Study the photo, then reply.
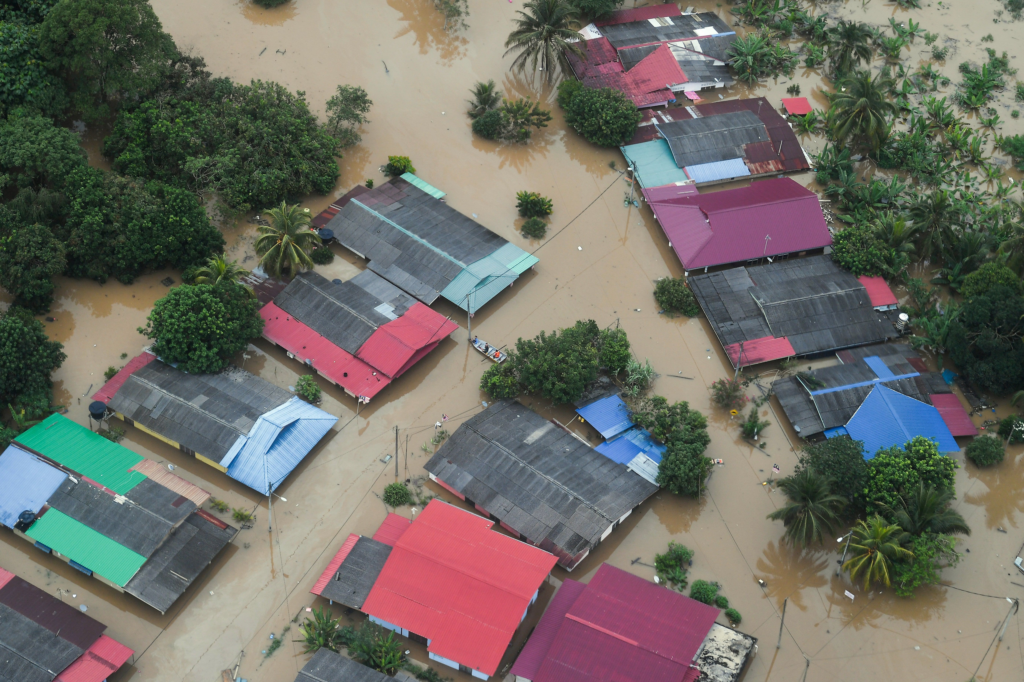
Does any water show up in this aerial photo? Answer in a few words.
Yes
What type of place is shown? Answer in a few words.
residential area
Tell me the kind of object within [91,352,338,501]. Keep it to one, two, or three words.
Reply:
house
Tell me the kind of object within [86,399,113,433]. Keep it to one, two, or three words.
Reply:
water tank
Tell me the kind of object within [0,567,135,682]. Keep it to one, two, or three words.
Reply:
house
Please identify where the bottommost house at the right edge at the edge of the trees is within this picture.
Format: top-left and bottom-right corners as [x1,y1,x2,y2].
[771,343,978,467]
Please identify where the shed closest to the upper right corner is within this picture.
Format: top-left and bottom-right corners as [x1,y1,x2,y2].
[781,98,810,122]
